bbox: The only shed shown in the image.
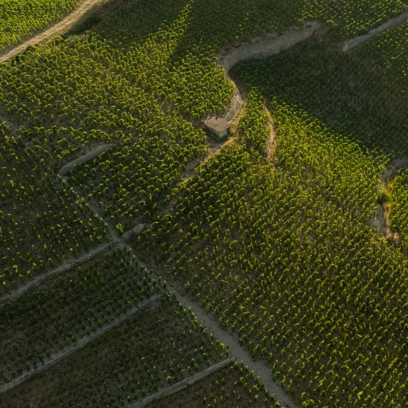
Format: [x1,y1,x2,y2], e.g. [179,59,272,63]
[199,117,234,144]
